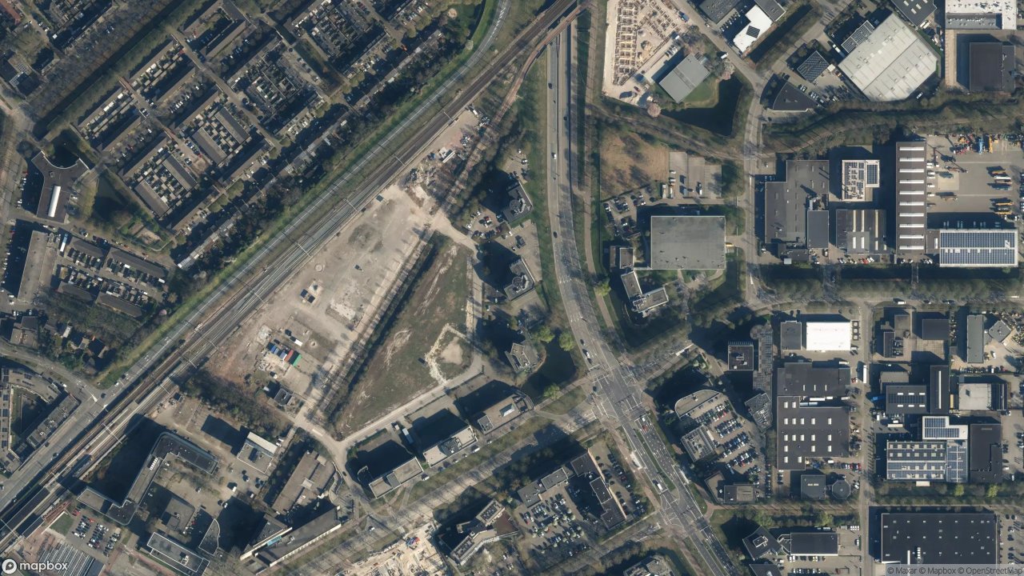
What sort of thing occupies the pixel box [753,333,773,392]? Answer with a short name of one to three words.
greenhouse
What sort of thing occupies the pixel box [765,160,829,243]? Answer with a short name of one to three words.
building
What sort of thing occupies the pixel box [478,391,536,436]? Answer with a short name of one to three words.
building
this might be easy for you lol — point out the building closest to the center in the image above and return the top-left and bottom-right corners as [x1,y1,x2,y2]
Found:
[505,258,536,302]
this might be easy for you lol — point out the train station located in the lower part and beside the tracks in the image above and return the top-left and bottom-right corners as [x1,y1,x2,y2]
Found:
[0,372,174,557]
